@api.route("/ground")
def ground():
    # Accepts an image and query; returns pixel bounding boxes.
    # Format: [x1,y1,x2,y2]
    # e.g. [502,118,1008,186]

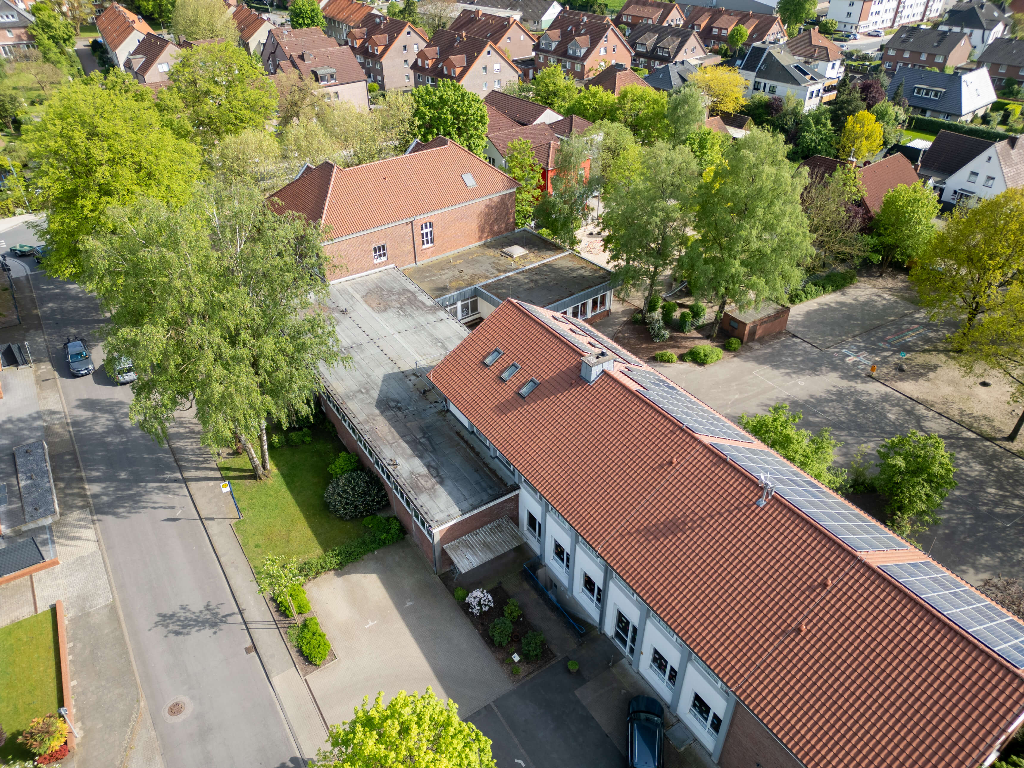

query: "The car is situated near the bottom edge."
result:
[625,693,676,768]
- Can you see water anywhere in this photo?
No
